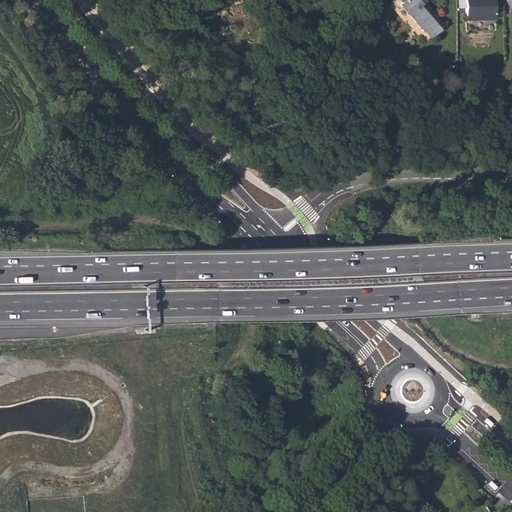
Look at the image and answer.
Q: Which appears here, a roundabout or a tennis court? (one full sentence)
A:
It is a roundabout that can be seen here.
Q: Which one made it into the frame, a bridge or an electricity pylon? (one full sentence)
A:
There is a bridge in the scene.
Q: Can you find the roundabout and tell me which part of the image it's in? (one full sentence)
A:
The roundabout sits in the bottom right section of the image.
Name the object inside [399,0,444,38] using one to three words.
house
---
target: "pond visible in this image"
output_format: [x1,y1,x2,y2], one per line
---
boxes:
[0,397,106,440]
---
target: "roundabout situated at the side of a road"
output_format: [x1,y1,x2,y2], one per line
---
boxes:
[372,349,454,432]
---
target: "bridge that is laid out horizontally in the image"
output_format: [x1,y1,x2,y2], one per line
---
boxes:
[171,244,466,324]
